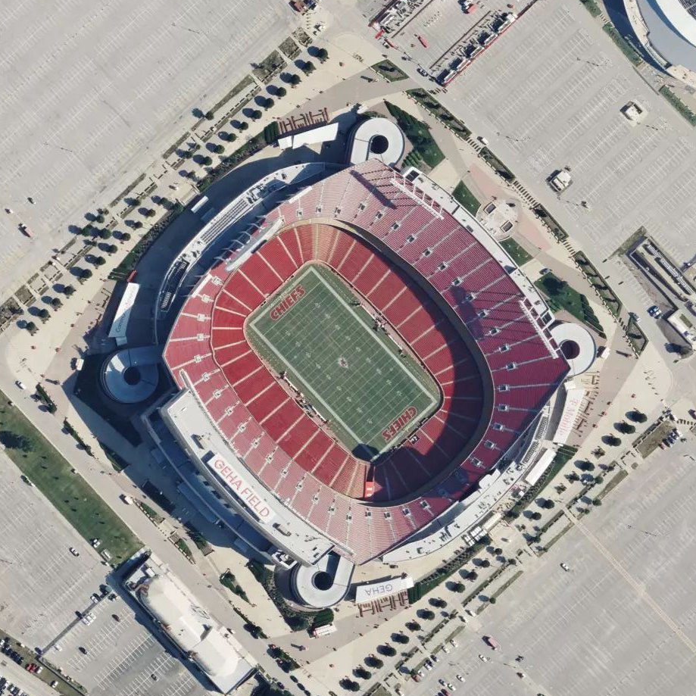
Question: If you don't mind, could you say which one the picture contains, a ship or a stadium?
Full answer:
The one in the frame is a stadium.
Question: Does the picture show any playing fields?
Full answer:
Yes, this view includes a playing field.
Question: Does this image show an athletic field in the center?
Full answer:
Yes, there is an athletic field in the center.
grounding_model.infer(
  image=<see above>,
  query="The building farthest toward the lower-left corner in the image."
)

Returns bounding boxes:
[121,555,260,692]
